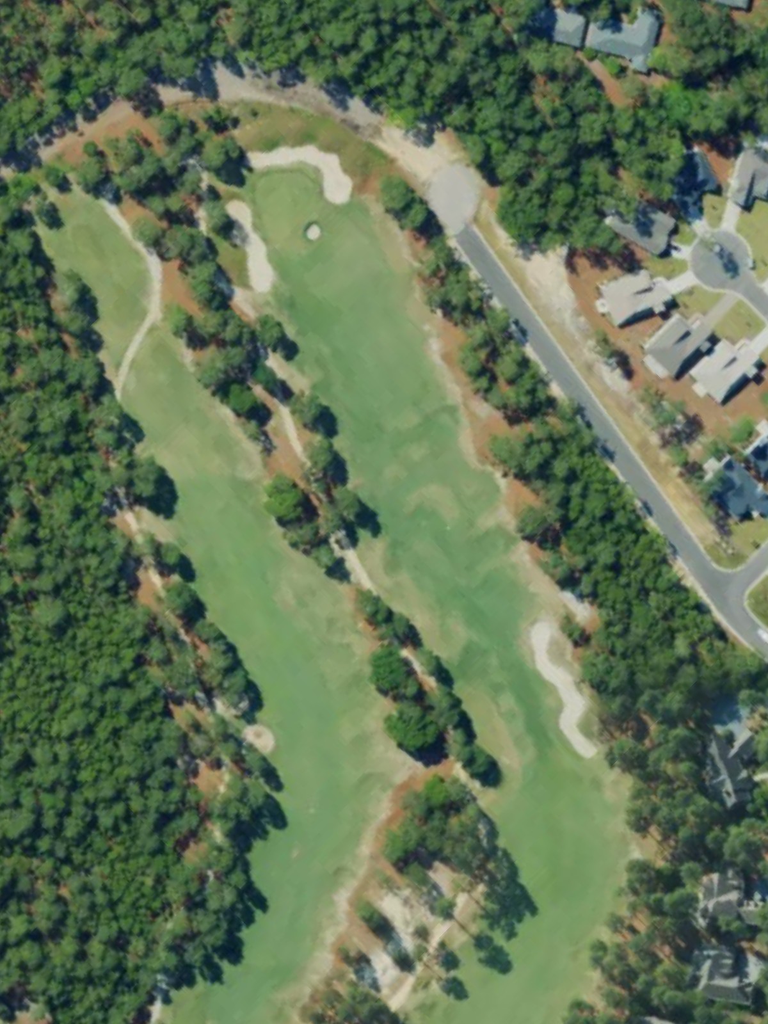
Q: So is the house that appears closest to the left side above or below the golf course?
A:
above it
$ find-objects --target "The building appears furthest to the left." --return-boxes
[553,7,585,45]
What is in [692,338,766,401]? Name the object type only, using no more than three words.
house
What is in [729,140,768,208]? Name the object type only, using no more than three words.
house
